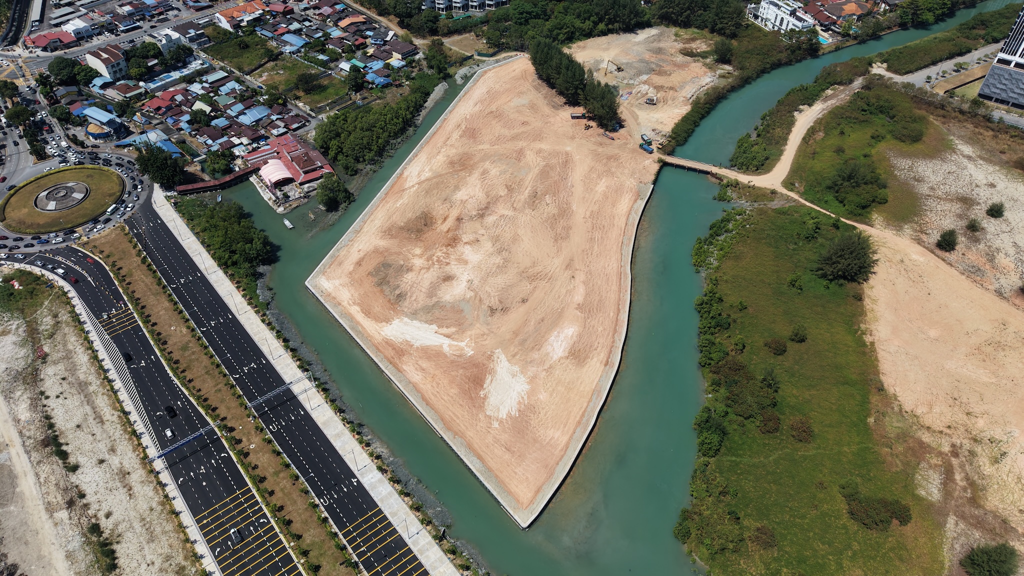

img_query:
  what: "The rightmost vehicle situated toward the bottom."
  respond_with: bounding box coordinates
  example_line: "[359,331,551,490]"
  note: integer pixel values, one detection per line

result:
[230,527,243,544]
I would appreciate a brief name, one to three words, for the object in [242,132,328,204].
building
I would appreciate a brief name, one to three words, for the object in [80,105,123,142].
building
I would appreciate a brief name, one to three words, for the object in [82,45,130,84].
house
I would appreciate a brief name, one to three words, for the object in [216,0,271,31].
house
